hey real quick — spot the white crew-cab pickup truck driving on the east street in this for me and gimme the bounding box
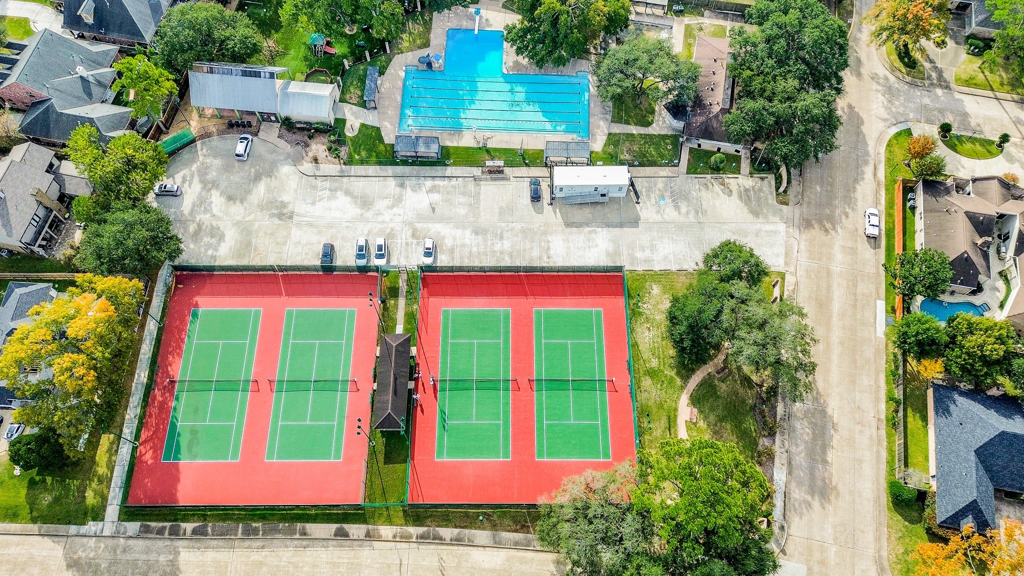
[865,208,882,239]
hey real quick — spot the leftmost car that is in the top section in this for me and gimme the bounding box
[152,183,182,198]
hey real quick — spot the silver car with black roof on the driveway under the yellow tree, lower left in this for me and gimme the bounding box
[0,417,24,447]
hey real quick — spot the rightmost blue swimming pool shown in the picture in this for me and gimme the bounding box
[918,296,993,322]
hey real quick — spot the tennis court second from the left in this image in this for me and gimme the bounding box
[248,273,378,502]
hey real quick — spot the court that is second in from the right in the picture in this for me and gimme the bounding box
[409,273,523,501]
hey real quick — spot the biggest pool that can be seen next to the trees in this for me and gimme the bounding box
[396,28,591,141]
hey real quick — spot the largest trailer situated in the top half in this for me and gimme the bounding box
[553,166,628,206]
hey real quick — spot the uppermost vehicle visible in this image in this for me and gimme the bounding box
[234,136,251,161]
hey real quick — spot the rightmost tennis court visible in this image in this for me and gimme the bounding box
[522,273,638,501]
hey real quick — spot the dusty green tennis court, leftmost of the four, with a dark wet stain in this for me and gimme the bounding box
[127,272,277,503]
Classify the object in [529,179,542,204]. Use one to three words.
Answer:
vehicle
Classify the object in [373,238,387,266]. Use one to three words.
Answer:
car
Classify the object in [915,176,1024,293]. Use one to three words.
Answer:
house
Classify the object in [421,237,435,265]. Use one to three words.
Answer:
car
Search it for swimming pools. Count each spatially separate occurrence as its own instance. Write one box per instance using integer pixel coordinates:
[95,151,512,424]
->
[396,28,591,141]
[918,296,993,322]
